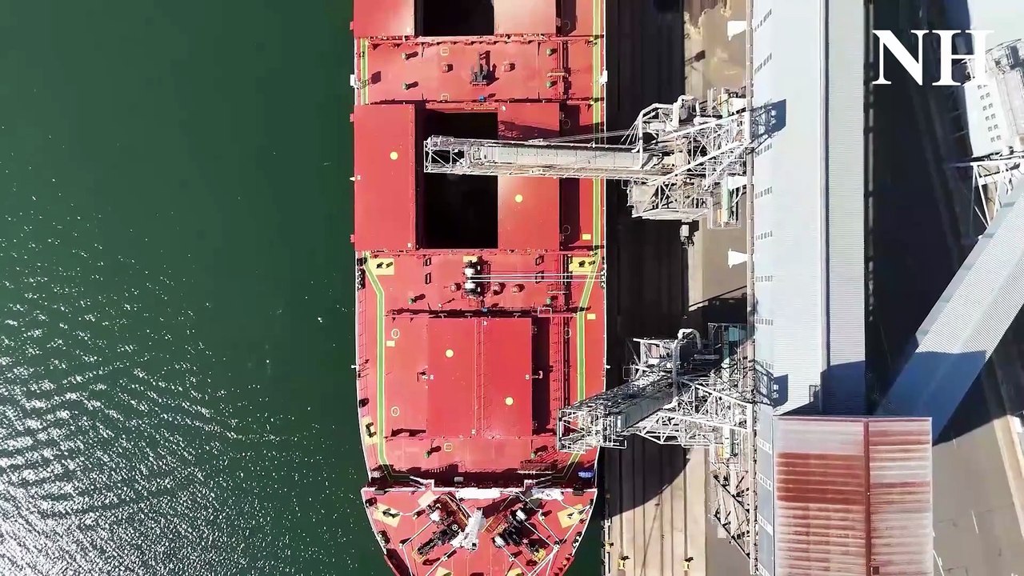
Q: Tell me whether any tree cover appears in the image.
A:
No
